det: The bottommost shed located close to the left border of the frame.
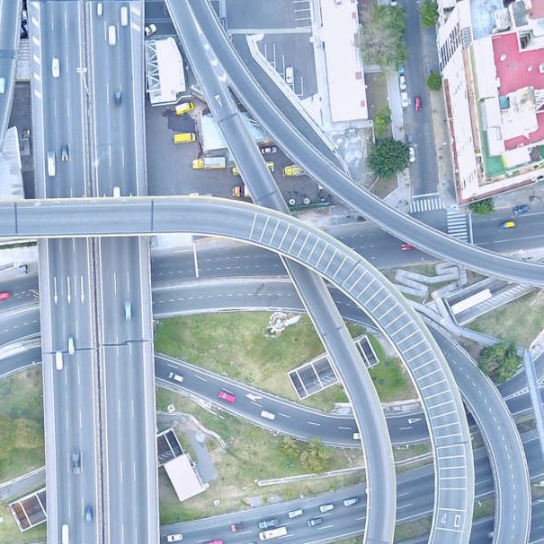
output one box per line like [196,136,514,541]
[0,126,26,199]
